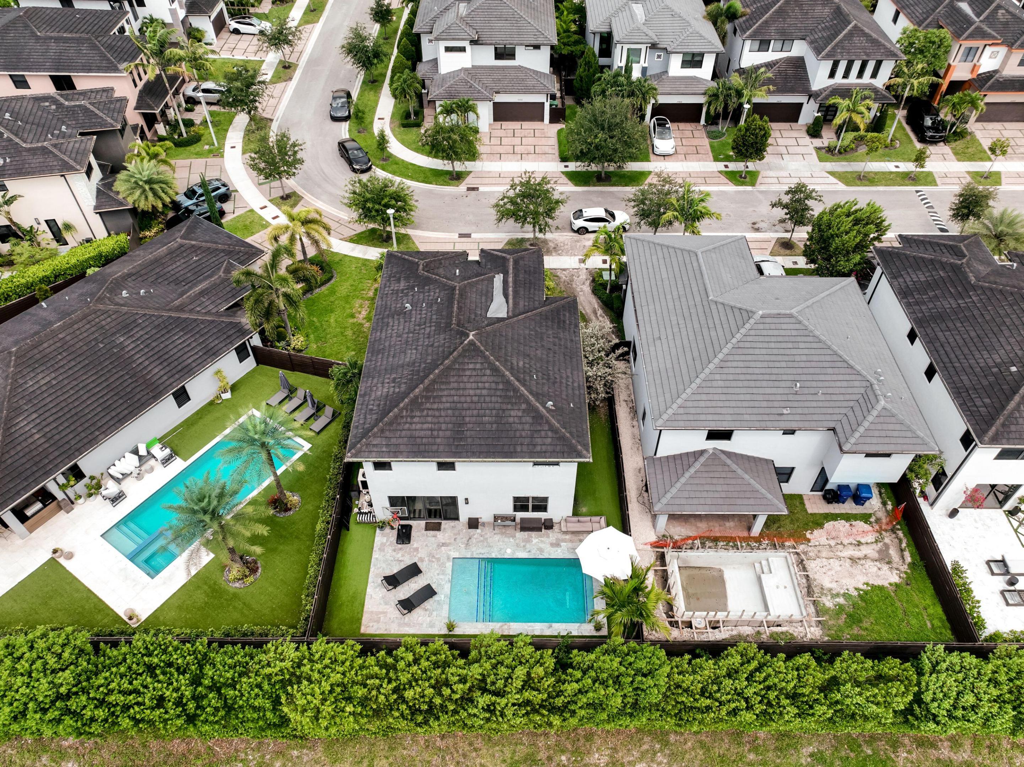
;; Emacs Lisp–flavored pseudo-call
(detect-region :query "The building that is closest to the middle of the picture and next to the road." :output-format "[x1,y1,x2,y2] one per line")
[343,243,594,522]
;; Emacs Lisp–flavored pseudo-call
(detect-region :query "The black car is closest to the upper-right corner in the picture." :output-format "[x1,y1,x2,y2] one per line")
[902,97,948,139]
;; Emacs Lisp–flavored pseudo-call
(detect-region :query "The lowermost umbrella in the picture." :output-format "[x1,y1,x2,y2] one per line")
[576,526,640,583]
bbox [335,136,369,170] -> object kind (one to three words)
car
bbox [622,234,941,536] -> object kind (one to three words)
house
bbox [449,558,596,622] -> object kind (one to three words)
swimming pool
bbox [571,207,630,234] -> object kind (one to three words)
car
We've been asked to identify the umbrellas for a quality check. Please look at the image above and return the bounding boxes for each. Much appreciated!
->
[576,526,640,583]
[307,391,320,420]
[280,372,294,401]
